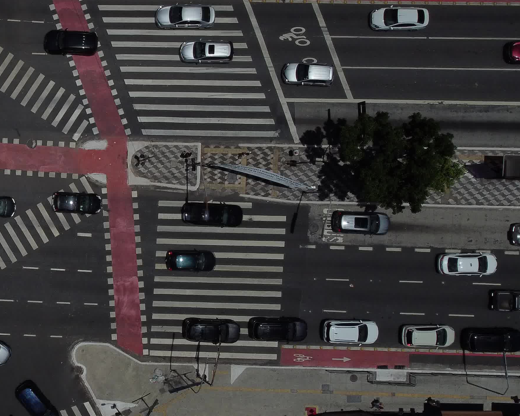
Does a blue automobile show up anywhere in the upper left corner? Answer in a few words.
No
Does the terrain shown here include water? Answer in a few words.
No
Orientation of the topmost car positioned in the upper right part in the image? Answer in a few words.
from left to right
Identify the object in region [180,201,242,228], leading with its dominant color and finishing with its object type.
black car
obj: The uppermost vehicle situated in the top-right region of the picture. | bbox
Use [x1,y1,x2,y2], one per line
[366,4,429,33]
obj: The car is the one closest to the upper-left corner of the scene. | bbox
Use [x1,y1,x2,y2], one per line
[43,26,97,56]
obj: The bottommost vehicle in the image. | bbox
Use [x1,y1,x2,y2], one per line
[15,377,57,416]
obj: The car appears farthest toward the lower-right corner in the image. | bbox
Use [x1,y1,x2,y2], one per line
[457,327,520,355]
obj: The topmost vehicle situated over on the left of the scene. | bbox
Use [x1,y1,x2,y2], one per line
[153,2,214,31]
